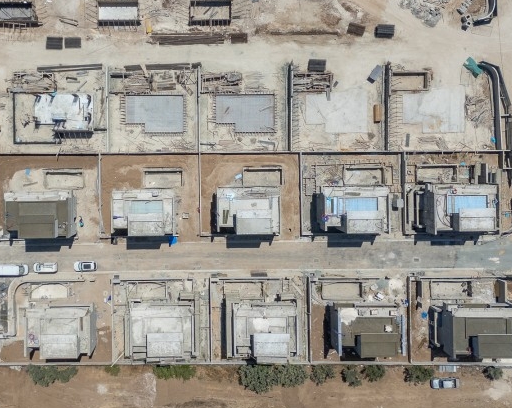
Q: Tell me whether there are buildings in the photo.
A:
Yes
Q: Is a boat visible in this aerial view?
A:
No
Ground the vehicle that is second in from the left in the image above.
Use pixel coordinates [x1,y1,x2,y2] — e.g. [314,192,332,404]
[33,260,58,273]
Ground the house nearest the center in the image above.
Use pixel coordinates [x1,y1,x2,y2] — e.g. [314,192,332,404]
[213,184,280,234]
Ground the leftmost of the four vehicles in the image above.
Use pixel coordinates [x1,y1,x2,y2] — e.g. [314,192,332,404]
[0,263,30,276]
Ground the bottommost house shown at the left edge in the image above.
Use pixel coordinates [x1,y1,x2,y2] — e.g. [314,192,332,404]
[25,302,97,358]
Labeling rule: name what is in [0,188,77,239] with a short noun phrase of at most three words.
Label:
house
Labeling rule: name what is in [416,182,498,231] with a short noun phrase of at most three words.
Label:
house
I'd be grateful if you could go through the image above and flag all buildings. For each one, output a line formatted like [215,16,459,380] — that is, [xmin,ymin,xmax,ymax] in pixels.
[315,183,389,234]
[25,302,97,358]
[213,184,280,234]
[231,298,296,362]
[434,301,512,356]
[0,188,77,239]
[330,301,405,355]
[130,297,192,362]
[416,182,498,231]
[111,186,175,236]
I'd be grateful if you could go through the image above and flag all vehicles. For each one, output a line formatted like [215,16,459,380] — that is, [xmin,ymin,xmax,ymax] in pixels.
[0,263,30,276]
[33,260,58,273]
[429,376,458,390]
[74,260,98,273]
